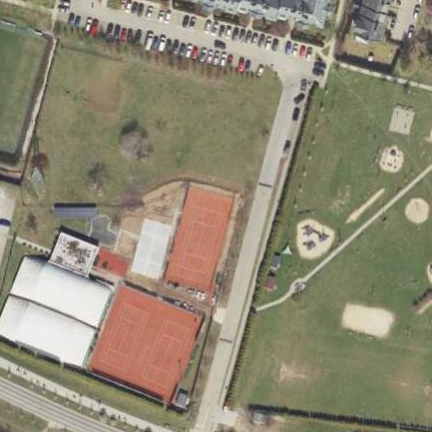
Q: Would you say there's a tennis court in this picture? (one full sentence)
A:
Yes, the picture does show a tennis court.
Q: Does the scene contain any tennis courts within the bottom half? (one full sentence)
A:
Yes, a tennis court shows up within the bottom half.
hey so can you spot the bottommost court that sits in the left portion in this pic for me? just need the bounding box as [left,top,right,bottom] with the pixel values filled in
[88,285,201,404]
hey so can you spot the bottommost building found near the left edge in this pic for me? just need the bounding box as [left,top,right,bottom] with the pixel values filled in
[0,295,96,367]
